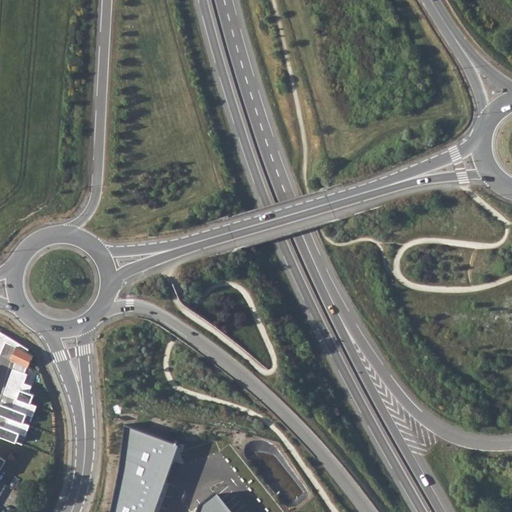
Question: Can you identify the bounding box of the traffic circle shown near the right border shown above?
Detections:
[472,90,512,202]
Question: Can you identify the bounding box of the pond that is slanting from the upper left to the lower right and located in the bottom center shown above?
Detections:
[242,438,307,505]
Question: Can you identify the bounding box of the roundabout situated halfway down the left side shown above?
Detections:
[0,224,119,339]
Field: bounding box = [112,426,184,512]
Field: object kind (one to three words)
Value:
building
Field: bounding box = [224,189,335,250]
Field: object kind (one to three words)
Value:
overpass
